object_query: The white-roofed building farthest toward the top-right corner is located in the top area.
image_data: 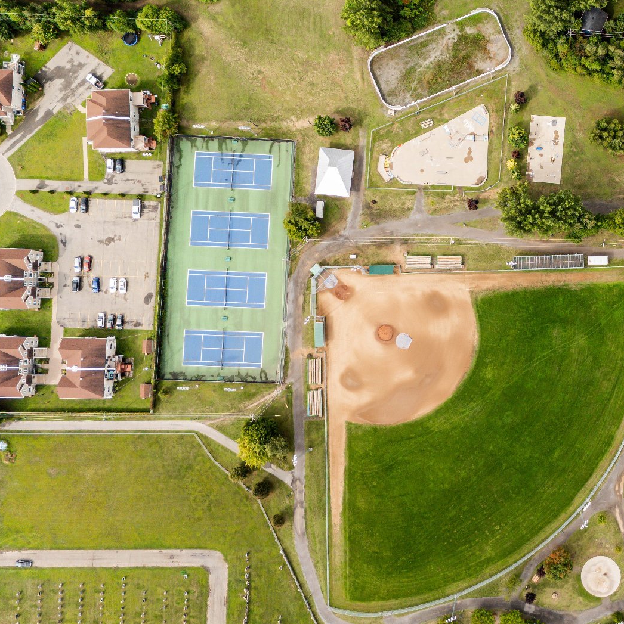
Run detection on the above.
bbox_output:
[315,148,356,198]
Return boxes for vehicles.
[81,198,88,212]
[106,158,115,173]
[133,199,141,218]
[110,277,117,293]
[16,560,32,567]
[93,278,101,292]
[74,256,83,272]
[86,74,105,88]
[107,314,115,328]
[84,256,93,272]
[73,276,81,292]
[97,312,106,328]
[120,277,127,293]
[116,158,124,173]
[115,313,125,330]
[70,197,78,212]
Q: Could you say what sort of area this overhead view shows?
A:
sports ground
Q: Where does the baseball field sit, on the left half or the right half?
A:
right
